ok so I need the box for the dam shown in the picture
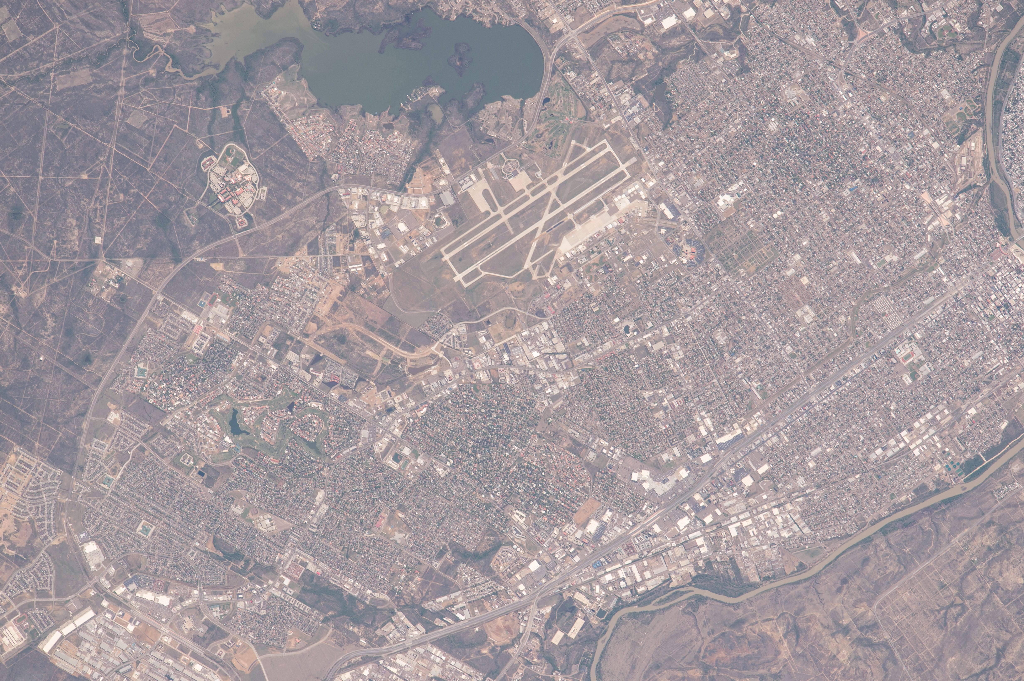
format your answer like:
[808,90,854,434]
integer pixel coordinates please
[513,15,549,102]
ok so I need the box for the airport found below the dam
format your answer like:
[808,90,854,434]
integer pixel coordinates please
[440,135,648,287]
